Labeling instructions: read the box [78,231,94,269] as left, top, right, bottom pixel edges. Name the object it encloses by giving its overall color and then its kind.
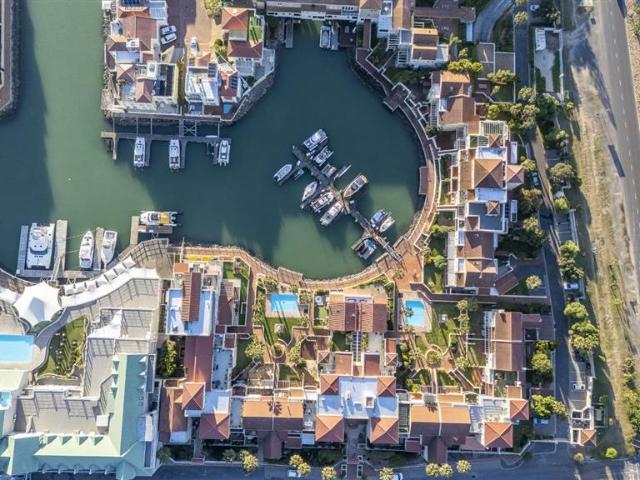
white boat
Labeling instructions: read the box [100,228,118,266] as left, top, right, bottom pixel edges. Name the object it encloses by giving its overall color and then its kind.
white boat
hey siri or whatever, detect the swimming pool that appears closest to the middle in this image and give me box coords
[270,292,299,313]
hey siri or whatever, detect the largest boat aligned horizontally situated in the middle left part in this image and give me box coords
[139,208,179,226]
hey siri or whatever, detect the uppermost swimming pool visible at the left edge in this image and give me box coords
[0,334,35,364]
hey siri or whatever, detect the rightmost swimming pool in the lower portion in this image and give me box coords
[404,299,426,328]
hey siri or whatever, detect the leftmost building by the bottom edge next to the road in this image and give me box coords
[0,351,161,479]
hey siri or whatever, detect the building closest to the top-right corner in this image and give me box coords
[532,29,559,52]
